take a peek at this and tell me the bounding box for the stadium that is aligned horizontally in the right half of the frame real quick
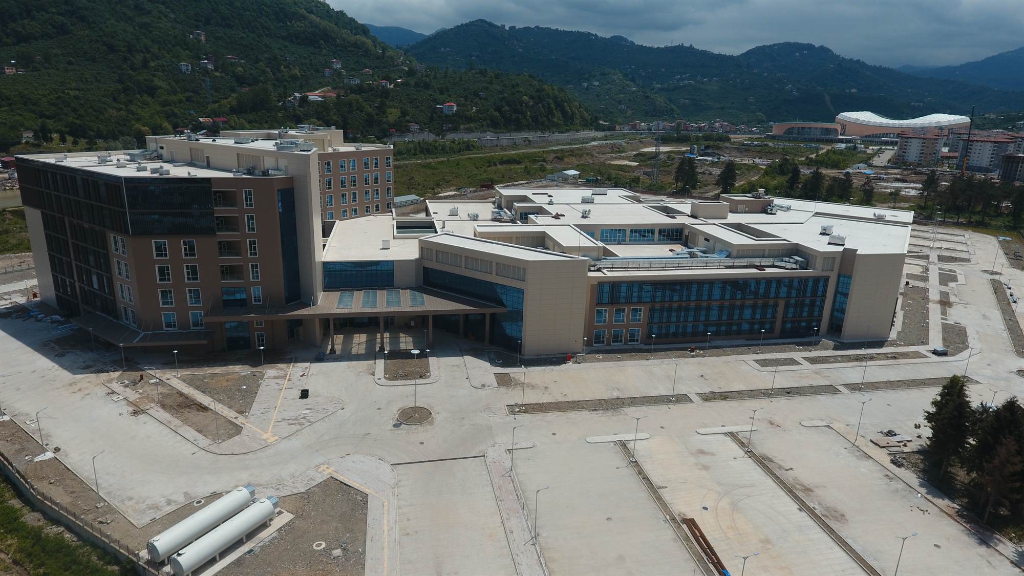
[830,111,968,152]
